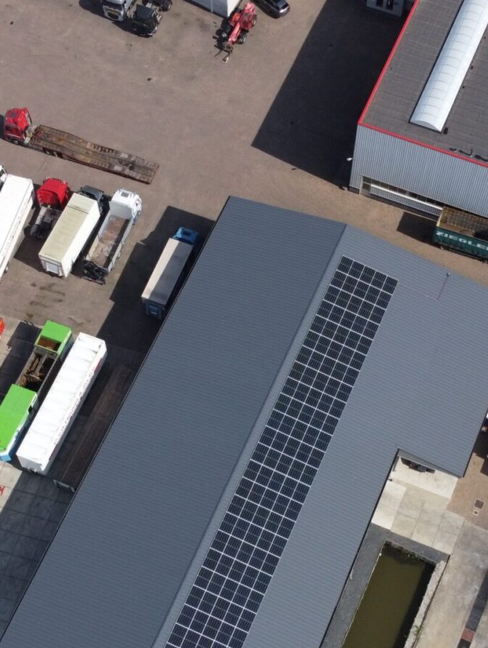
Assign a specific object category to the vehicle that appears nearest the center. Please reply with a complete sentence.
The vehicle that appears nearest the center appears to be a truck.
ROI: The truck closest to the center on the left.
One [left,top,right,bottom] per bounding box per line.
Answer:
[141,229,205,319]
